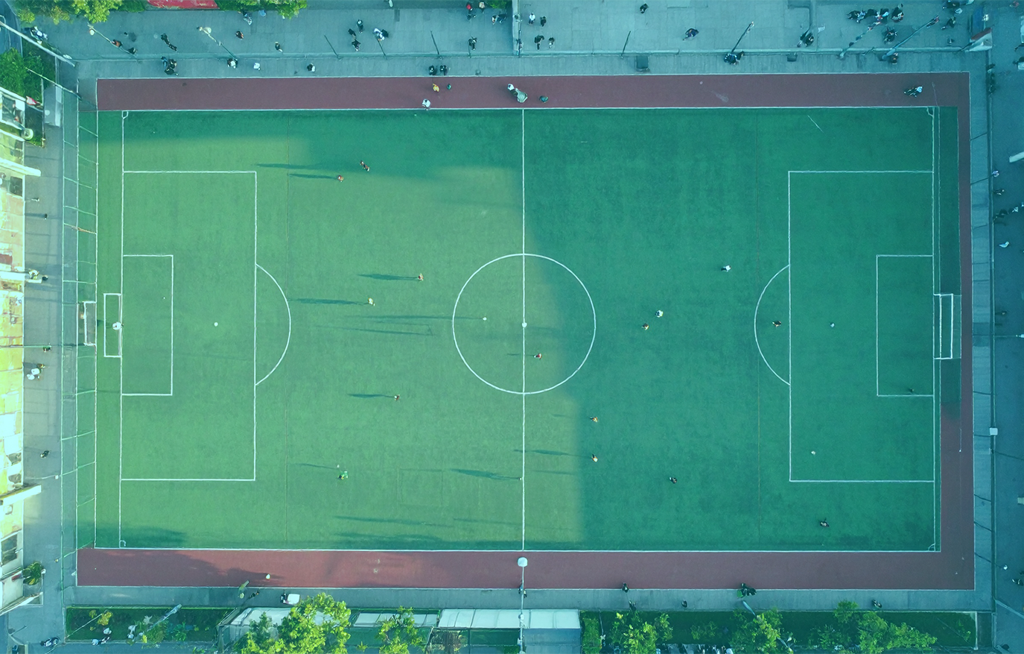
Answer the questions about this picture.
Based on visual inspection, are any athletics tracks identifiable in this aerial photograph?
Yes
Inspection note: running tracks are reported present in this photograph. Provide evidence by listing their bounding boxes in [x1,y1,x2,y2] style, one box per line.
[77,72,975,590]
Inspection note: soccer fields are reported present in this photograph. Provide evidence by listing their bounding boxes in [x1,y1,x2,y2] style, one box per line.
[76,84,962,585]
